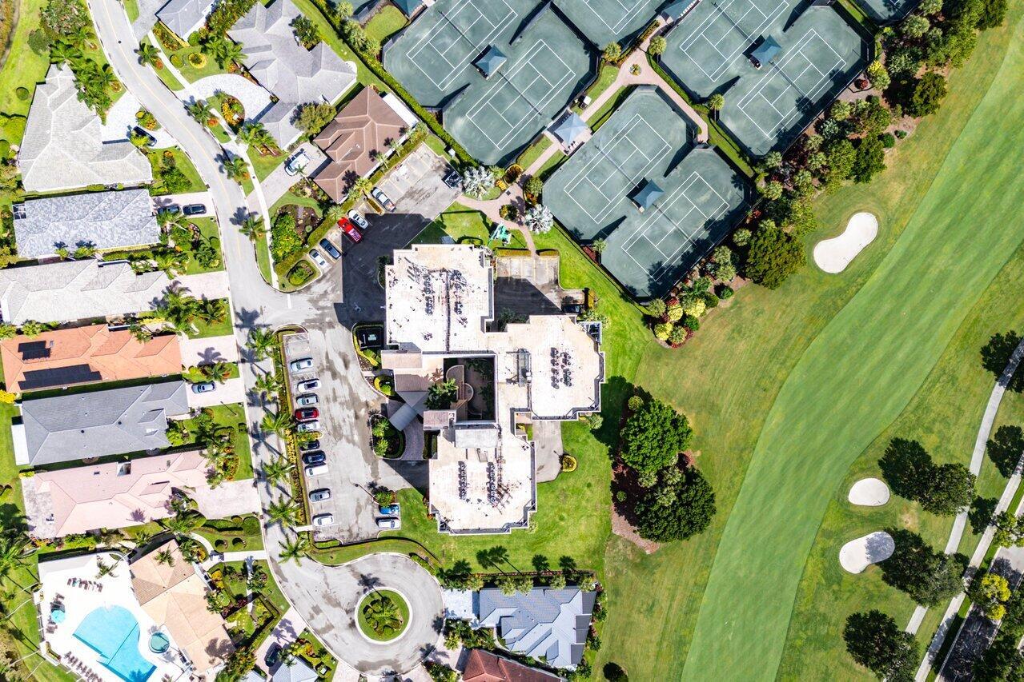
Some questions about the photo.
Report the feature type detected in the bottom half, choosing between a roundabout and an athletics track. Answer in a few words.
roundabout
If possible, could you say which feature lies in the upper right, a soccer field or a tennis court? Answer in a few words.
tennis court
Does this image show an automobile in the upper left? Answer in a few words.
Yes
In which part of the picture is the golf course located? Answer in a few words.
right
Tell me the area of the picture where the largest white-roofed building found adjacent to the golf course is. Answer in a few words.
center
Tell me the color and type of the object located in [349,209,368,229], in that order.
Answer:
white car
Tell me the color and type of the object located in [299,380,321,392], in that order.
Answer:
white vehicle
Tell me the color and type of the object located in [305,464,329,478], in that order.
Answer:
white vehicle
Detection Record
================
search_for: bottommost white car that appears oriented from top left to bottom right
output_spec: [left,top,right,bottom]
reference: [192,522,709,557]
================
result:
[309,248,328,268]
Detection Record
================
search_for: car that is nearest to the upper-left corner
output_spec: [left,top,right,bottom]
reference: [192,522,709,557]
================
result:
[133,127,155,143]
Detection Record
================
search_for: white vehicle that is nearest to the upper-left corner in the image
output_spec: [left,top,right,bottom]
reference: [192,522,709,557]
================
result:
[287,152,307,173]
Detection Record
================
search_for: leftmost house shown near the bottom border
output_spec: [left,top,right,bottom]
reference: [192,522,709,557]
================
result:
[129,538,239,674]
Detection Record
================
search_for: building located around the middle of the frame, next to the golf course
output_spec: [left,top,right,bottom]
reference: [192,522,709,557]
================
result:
[381,244,605,535]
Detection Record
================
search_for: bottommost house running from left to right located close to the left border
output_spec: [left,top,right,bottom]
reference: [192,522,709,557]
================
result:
[33,449,212,538]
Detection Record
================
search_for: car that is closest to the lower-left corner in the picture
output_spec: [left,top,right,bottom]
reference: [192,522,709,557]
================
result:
[265,644,281,666]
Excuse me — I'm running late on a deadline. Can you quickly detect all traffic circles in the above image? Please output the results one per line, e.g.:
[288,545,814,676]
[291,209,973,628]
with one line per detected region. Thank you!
[355,587,411,644]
